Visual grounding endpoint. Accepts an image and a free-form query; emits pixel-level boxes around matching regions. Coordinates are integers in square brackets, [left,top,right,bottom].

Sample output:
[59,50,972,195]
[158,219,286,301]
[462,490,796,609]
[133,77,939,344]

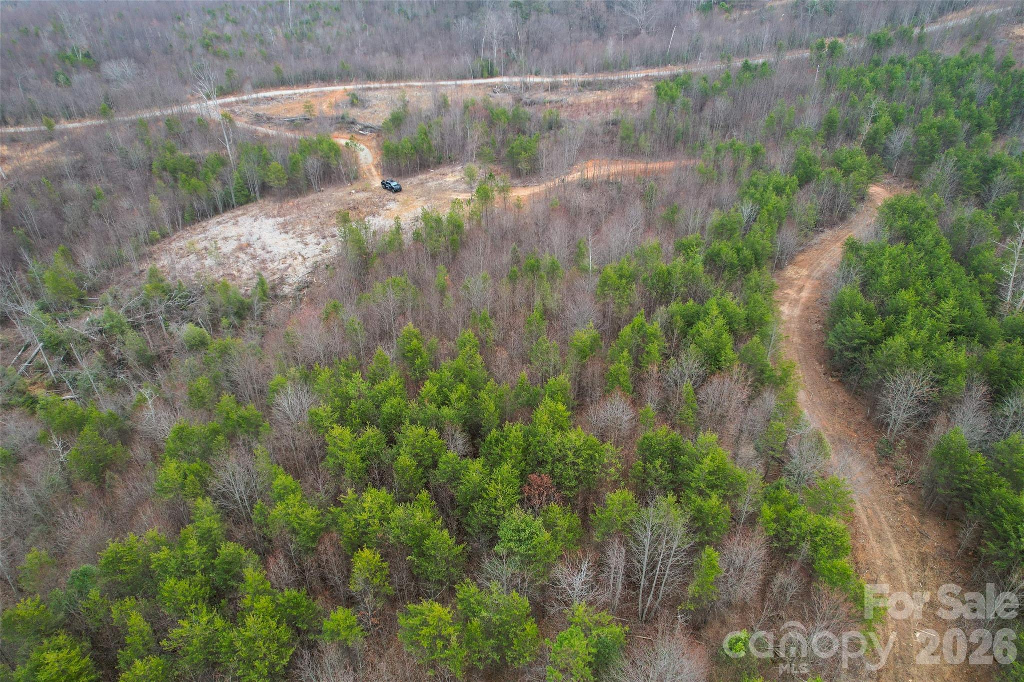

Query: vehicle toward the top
[382,180,402,193]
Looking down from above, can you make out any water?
No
